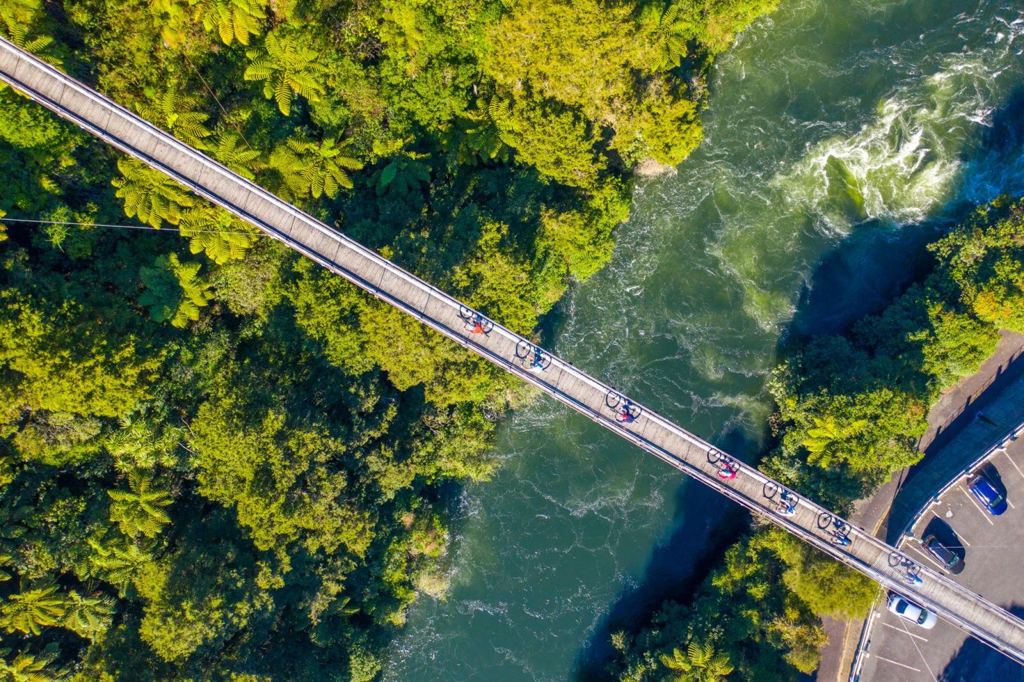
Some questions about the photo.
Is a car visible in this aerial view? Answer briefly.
Yes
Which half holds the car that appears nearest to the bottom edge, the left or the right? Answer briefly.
right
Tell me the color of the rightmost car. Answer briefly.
blue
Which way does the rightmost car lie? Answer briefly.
at an angle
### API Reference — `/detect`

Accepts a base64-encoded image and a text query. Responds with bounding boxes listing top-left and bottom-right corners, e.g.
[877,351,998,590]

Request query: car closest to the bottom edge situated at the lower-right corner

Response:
[884,592,936,630]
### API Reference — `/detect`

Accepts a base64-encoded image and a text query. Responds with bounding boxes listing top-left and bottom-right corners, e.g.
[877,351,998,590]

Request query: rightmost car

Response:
[965,473,1005,516]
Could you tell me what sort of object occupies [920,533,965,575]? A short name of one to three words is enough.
car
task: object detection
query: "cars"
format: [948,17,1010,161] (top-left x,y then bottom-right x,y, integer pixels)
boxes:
[884,592,936,630]
[965,473,1005,516]
[920,533,965,575]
